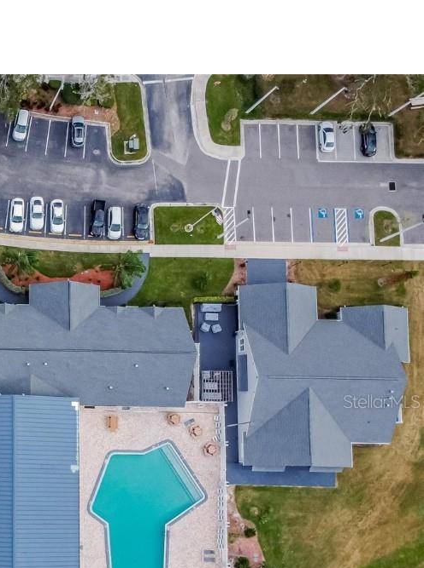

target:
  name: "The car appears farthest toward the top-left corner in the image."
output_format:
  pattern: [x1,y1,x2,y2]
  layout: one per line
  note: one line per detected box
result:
[14,106,32,141]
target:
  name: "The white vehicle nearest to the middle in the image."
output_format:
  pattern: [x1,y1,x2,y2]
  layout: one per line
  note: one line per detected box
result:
[108,206,124,237]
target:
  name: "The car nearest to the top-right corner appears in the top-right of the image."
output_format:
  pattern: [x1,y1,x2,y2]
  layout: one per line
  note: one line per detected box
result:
[361,122,382,154]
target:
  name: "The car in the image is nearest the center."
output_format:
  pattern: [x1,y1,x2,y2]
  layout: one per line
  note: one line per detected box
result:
[136,204,153,237]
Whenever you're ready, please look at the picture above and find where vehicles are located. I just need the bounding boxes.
[72,114,88,146]
[14,106,32,141]
[91,198,108,234]
[108,206,124,237]
[31,196,47,229]
[136,204,153,237]
[51,198,67,231]
[10,197,26,230]
[361,122,382,154]
[320,120,340,151]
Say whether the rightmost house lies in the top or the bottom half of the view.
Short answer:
bottom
